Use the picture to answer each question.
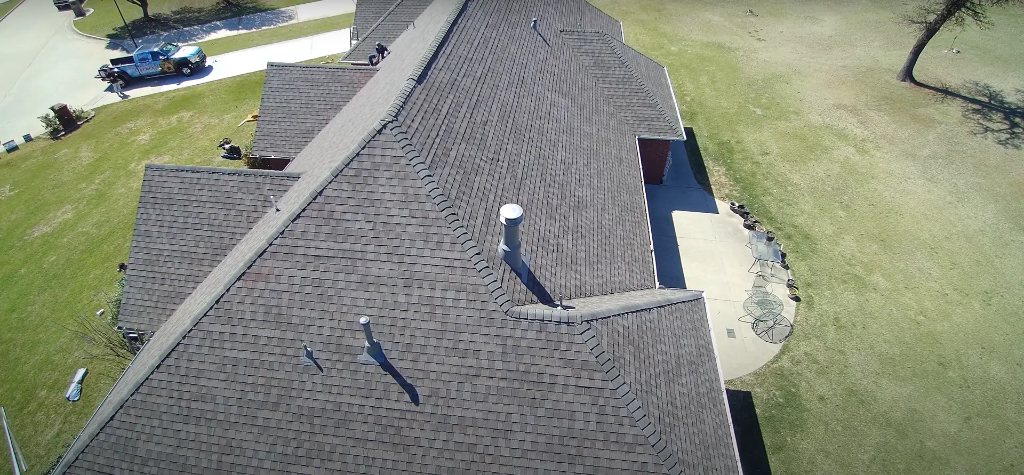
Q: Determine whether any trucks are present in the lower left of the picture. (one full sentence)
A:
No, there's no truck to be seen in the lower left of the picture.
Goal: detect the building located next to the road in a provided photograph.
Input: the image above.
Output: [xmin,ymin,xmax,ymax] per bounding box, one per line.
[29,0,745,475]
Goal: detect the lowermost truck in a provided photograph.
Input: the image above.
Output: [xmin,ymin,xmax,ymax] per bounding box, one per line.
[98,39,204,87]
